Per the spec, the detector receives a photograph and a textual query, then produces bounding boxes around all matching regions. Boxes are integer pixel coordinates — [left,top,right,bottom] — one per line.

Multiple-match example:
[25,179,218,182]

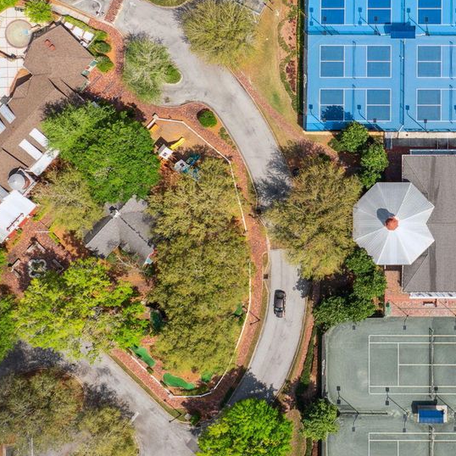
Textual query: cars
[271,290,285,316]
